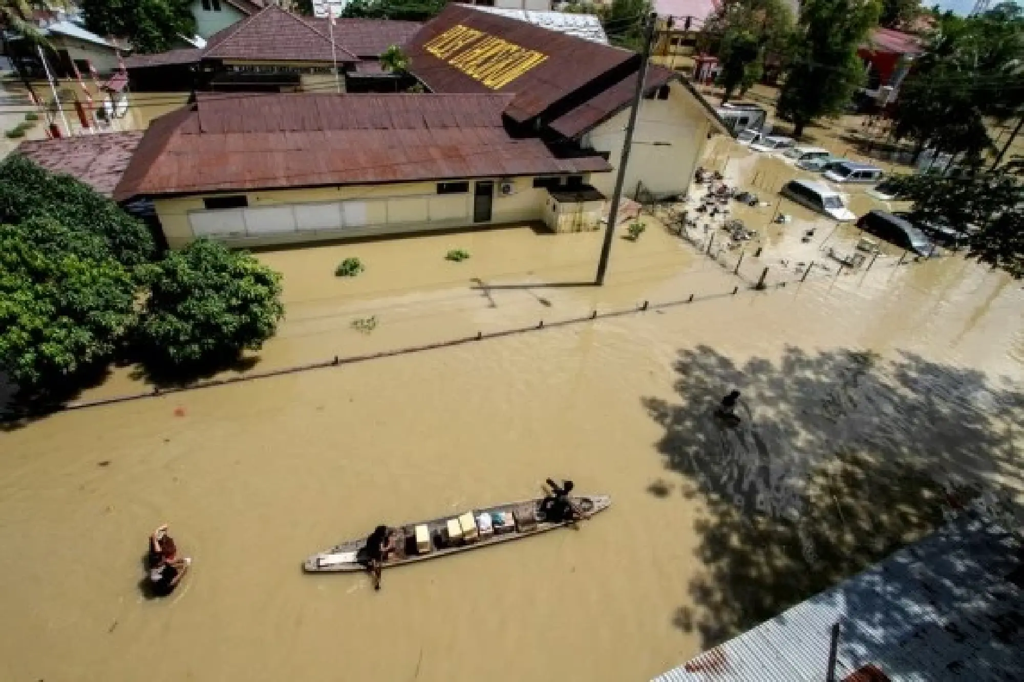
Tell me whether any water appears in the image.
Yes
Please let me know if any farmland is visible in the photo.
No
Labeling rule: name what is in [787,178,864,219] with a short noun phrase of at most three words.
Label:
vehicle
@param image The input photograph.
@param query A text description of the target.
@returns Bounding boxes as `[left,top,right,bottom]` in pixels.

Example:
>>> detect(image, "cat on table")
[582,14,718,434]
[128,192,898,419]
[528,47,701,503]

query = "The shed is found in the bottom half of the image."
[656,478,1024,682]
